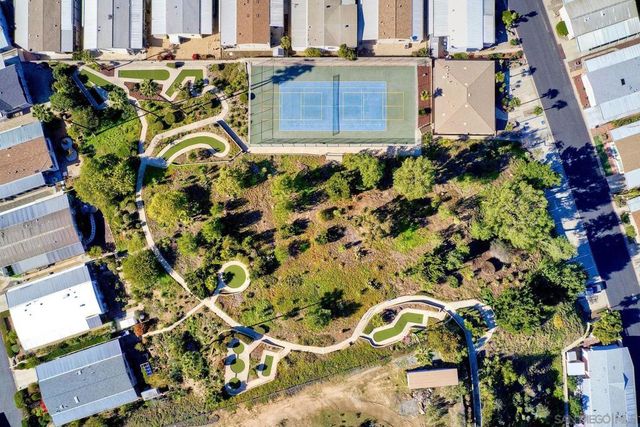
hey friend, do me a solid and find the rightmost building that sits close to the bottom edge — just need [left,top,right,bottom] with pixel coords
[576,342,637,427]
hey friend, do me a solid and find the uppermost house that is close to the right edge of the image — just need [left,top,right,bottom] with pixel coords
[555,0,640,55]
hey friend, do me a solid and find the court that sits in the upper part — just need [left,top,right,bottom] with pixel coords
[249,64,418,146]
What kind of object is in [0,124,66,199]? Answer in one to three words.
house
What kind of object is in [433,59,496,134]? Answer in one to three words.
building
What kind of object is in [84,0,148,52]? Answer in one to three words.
house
